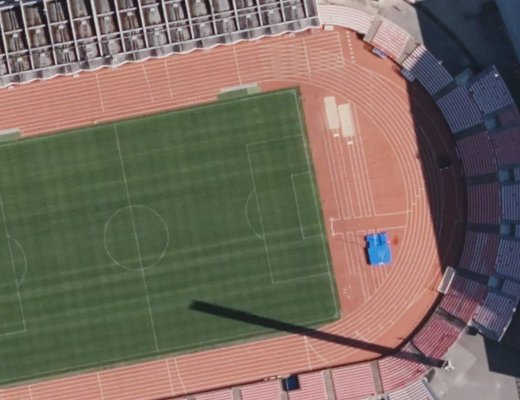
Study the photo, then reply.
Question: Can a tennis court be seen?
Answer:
No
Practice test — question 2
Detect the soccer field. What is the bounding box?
[0,85,345,390]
